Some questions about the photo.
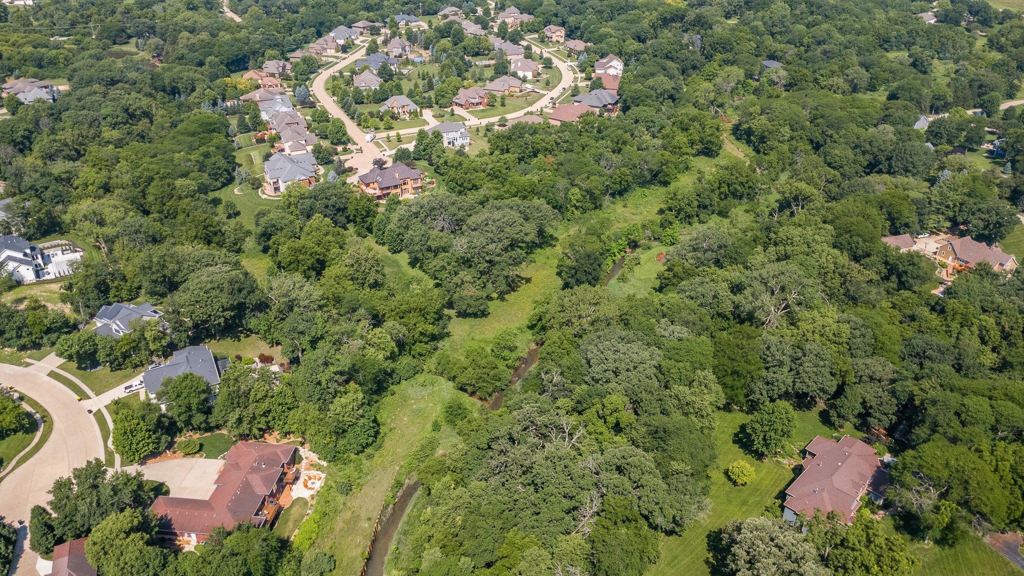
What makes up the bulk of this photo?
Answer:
trees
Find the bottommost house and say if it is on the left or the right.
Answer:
left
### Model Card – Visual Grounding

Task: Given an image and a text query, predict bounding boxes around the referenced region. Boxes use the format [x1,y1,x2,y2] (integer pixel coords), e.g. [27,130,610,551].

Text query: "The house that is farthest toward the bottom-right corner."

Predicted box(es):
[783,435,890,546]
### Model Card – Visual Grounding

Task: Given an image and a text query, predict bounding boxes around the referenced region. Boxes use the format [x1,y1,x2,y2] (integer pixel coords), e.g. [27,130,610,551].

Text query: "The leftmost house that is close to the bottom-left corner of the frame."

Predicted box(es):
[45,536,90,576]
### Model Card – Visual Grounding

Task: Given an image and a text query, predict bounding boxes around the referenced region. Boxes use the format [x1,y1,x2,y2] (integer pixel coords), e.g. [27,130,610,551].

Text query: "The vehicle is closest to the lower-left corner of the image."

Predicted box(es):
[121,380,145,393]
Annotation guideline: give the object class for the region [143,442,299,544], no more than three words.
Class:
house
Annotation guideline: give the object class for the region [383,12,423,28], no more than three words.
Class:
house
